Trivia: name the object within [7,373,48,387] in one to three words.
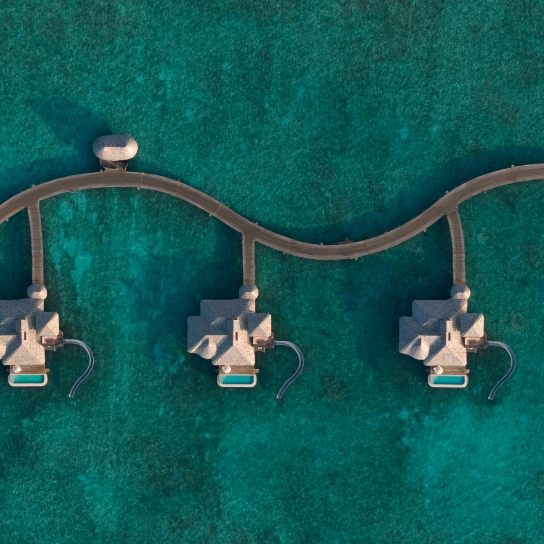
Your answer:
swimming pool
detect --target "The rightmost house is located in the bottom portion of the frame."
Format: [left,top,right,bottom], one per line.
[400,285,493,376]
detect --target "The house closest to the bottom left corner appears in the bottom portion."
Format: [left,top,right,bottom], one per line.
[0,284,72,375]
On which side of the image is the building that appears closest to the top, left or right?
left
